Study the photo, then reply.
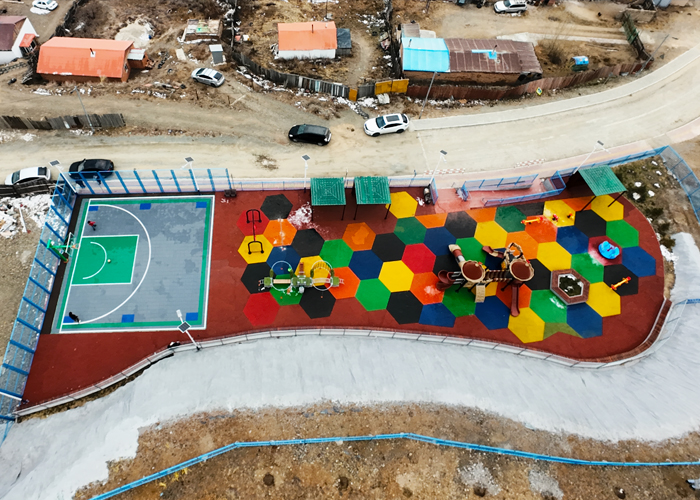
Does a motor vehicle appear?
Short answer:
Yes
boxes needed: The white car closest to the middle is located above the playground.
[364,113,409,137]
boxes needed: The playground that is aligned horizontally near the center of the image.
[21,173,671,409]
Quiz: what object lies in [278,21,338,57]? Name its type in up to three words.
house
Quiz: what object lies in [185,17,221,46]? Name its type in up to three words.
shed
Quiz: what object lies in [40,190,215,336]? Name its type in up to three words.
basketball court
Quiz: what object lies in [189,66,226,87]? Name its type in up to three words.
car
